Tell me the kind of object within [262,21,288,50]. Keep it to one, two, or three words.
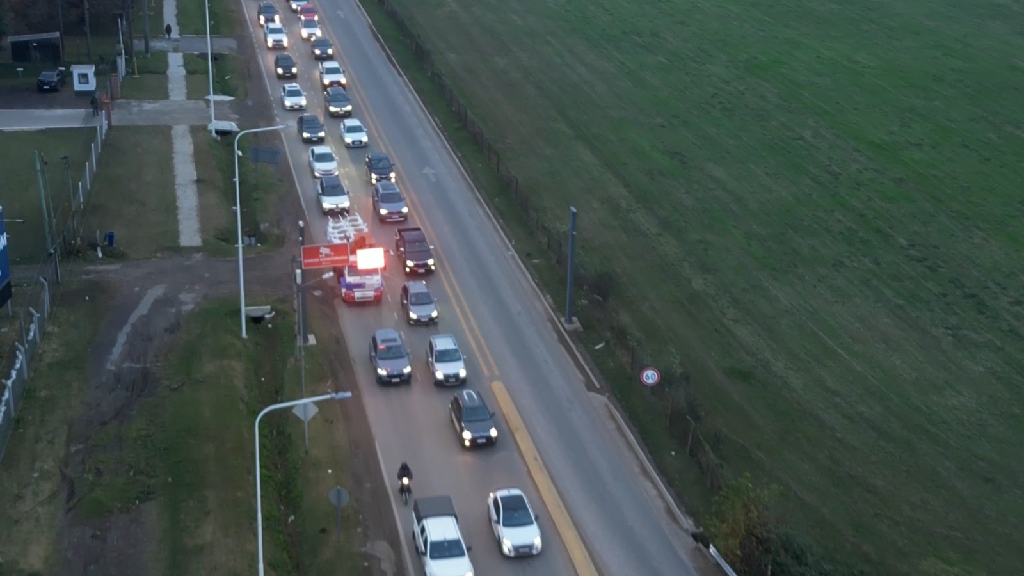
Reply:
truck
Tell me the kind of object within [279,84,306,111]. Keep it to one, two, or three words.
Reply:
car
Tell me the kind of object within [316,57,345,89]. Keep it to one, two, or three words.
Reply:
truck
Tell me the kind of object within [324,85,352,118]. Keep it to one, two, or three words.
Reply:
car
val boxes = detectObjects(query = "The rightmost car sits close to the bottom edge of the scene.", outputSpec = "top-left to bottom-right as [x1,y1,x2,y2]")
[484,490,542,559]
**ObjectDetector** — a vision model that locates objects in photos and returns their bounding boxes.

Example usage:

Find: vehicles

[316,175,349,214]
[272,51,297,79]
[316,57,345,89]
[279,84,306,111]
[338,116,368,148]
[286,0,306,13]
[297,113,325,143]
[262,21,288,50]
[391,227,434,273]
[367,329,411,384]
[325,230,385,302]
[411,493,473,576]
[296,2,319,22]
[448,384,496,448]
[484,490,542,559]
[308,34,334,60]
[398,276,437,325]
[307,145,338,178]
[297,15,322,40]
[423,332,466,386]
[394,472,412,502]
[256,0,280,27]
[324,85,352,118]
[362,146,396,184]
[371,179,407,222]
